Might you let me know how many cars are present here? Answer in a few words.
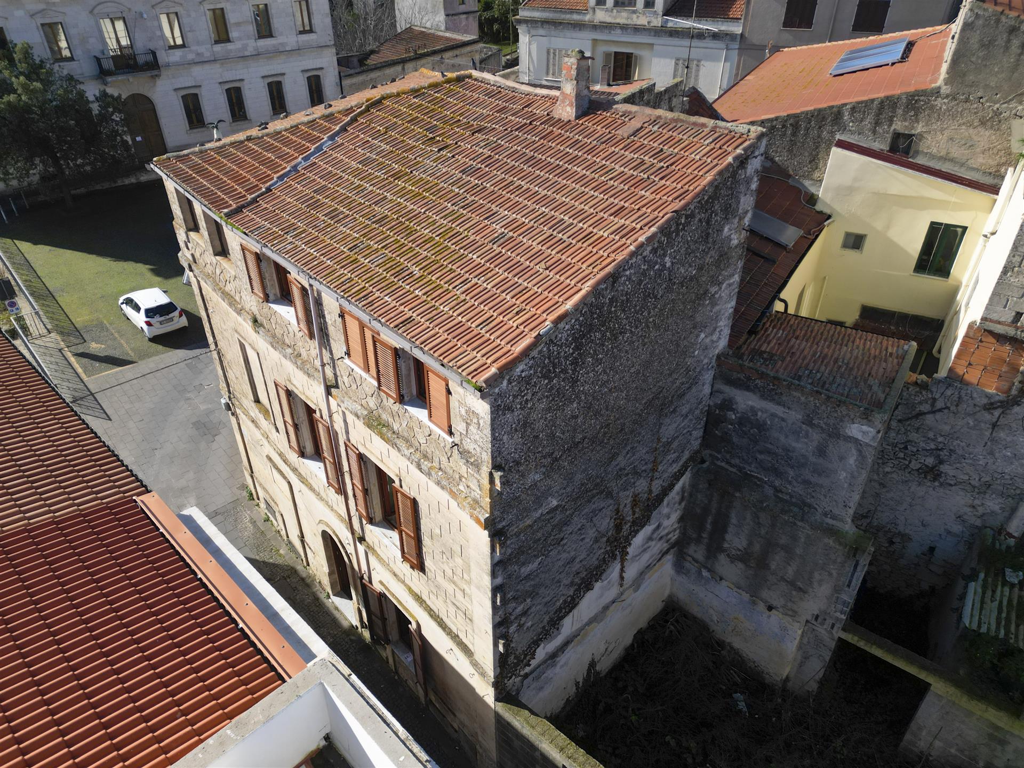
1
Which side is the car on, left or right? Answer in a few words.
left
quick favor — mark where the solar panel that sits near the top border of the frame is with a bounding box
[829,36,916,78]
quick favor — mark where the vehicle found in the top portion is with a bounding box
[113,273,189,330]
